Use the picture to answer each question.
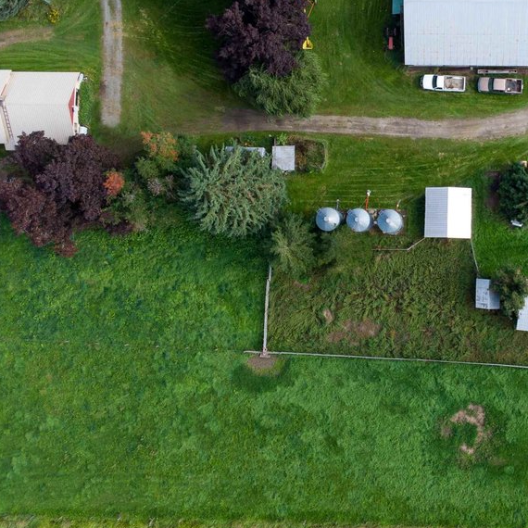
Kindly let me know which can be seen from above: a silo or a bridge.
silo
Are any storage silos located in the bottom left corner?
No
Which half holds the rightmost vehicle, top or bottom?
top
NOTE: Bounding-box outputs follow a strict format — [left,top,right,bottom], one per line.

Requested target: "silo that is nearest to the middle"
[316,207,344,232]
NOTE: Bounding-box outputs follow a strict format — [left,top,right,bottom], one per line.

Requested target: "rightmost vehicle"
[477,75,523,95]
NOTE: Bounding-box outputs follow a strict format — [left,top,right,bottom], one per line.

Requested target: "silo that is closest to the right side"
[377,208,403,233]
